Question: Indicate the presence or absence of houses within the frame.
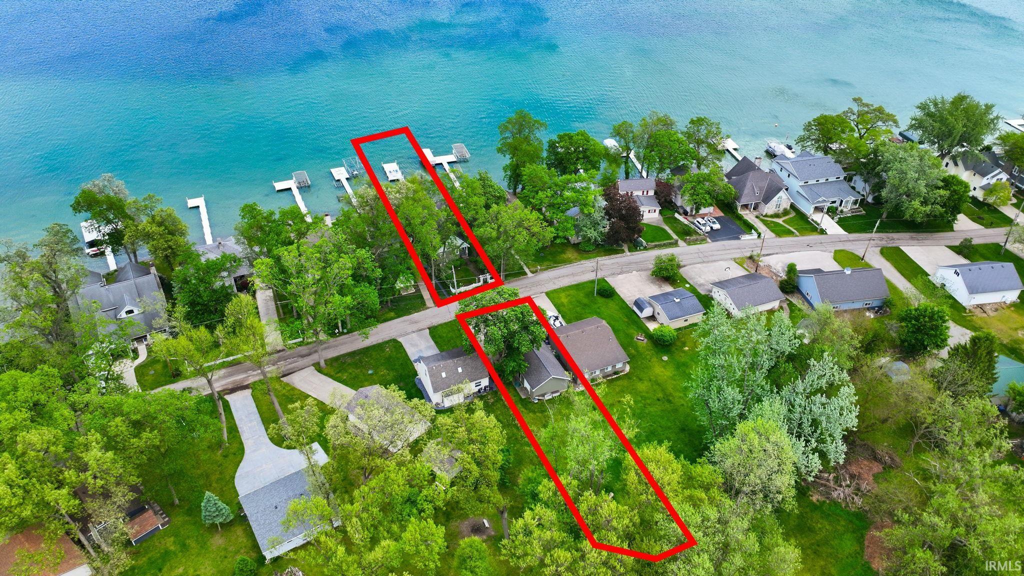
Yes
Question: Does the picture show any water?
Yes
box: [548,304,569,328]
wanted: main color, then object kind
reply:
white boat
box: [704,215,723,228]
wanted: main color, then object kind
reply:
white vehicle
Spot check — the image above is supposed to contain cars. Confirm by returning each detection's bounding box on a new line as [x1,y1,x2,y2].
[704,215,723,228]
[694,218,712,231]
